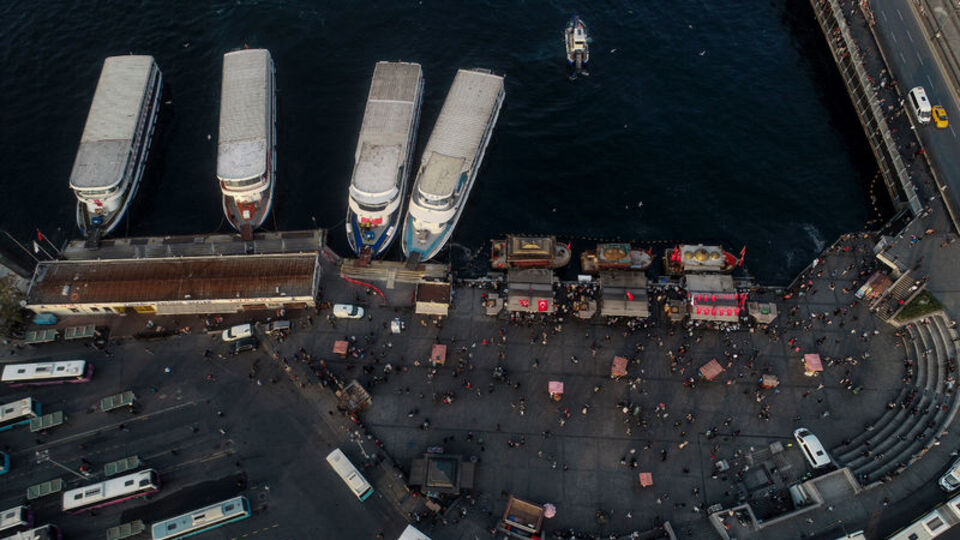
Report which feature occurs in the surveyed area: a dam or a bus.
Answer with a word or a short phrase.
bus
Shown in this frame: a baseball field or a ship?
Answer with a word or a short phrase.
ship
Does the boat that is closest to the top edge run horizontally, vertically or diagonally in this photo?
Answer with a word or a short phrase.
vertically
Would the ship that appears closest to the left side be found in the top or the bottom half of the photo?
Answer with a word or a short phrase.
top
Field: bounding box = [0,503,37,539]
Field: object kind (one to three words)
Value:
bus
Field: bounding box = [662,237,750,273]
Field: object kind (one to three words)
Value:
boat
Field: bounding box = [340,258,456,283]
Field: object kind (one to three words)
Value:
pier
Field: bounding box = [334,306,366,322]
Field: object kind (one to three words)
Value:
vehicle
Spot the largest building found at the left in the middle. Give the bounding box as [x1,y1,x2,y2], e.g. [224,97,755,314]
[23,253,321,322]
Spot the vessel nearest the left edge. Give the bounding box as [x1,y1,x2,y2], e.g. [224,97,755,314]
[69,50,164,241]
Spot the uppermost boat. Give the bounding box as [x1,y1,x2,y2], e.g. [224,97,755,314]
[565,16,590,69]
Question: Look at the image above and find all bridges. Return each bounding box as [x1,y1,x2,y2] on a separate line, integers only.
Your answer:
[810,0,960,230]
